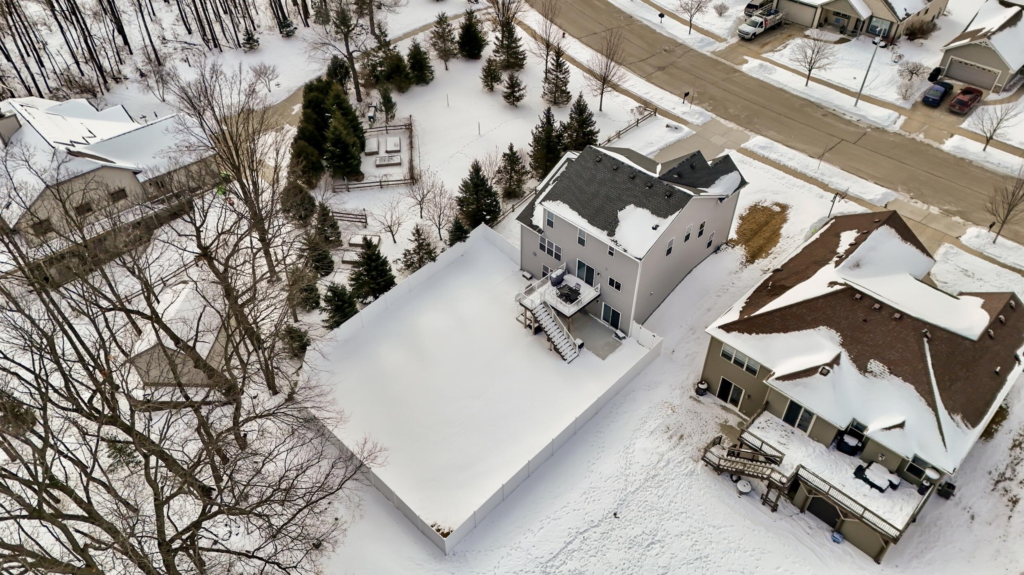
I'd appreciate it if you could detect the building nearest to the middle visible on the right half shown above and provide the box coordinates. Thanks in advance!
[510,147,749,339]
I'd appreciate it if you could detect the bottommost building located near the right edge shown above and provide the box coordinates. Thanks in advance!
[698,206,1024,553]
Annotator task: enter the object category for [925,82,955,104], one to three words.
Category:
car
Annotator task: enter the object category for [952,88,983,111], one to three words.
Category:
car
